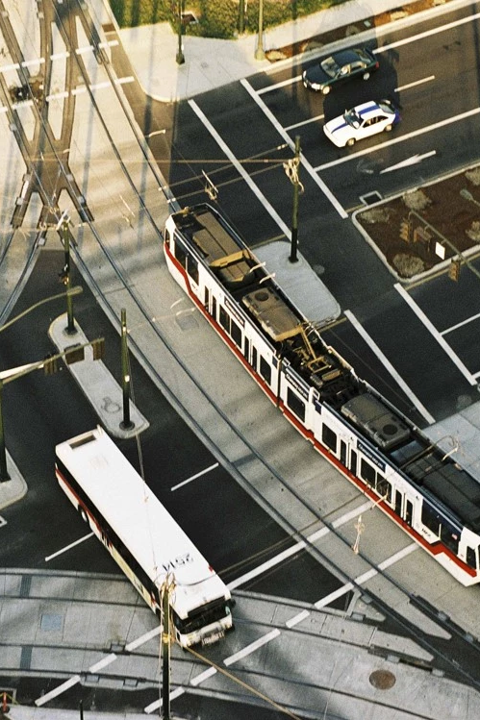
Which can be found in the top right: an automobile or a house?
automobile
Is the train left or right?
right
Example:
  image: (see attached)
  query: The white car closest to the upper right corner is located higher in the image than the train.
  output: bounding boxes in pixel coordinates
[321,104,401,151]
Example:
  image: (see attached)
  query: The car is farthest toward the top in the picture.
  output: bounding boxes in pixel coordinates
[303,50,383,95]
